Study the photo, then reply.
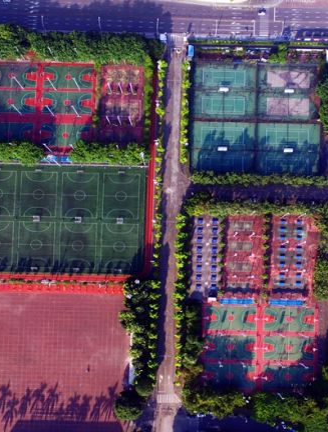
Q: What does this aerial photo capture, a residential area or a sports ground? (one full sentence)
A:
What you see here is a sports ground.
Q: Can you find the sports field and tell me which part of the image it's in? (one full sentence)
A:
The sports field is located in the left region of the scene.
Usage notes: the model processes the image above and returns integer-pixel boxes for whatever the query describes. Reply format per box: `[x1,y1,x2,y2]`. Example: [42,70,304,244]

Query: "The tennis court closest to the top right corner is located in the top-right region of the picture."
[267,71,309,87]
